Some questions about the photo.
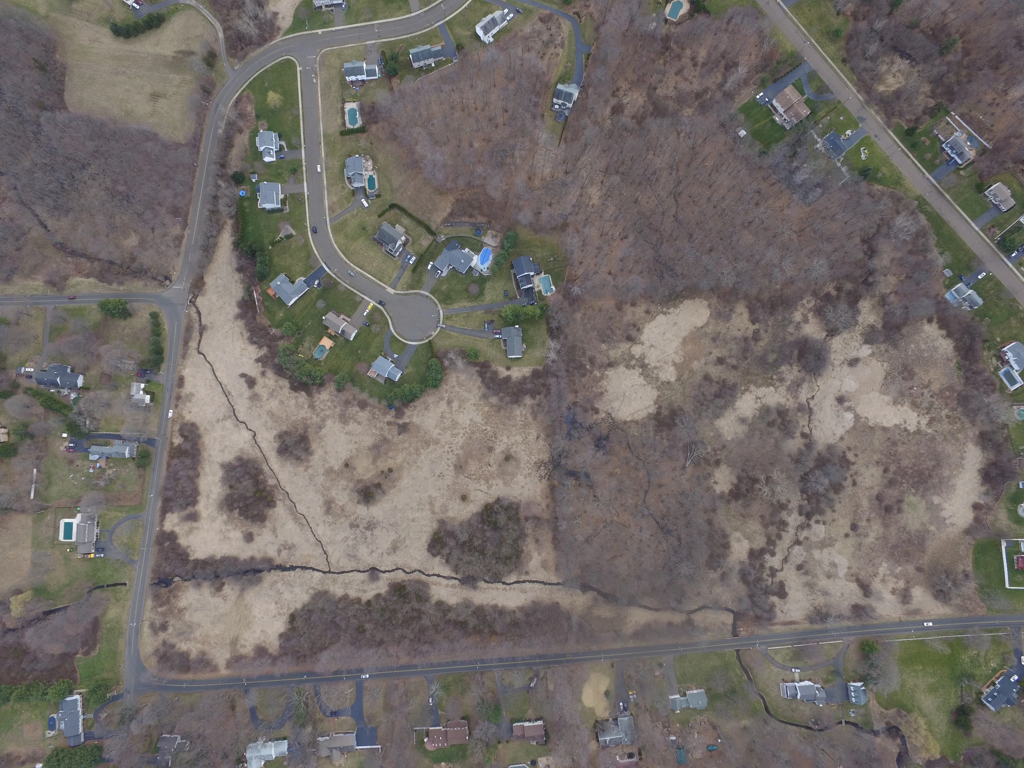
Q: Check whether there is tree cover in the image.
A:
Yes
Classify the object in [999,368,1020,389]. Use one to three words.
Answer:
swimming pool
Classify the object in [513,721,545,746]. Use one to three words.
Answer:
house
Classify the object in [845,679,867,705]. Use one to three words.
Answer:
building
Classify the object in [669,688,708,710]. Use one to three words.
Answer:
house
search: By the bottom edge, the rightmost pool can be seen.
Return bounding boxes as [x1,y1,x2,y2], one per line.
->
[616,750,637,762]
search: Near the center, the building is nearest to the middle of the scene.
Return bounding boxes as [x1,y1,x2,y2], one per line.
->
[502,325,522,356]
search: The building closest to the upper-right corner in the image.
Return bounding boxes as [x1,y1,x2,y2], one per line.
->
[938,131,978,166]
